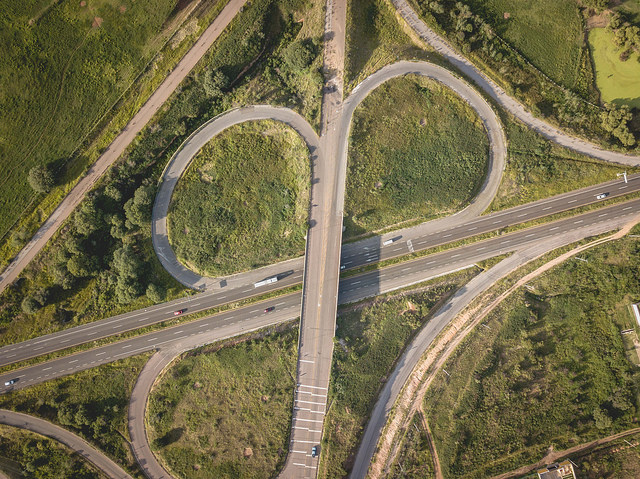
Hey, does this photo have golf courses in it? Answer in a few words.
No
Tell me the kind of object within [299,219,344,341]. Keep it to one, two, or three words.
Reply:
bridge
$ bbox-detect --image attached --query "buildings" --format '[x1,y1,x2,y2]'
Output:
[629,300,640,326]
[536,458,576,479]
